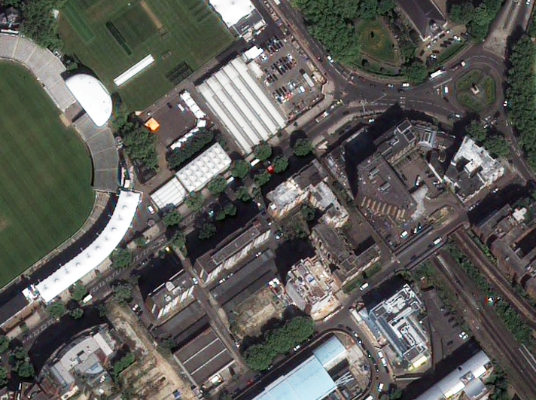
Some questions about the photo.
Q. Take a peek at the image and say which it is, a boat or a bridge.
bridge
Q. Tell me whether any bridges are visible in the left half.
No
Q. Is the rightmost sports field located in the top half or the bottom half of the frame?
top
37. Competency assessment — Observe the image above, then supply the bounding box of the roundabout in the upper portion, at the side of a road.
[455,67,496,110]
